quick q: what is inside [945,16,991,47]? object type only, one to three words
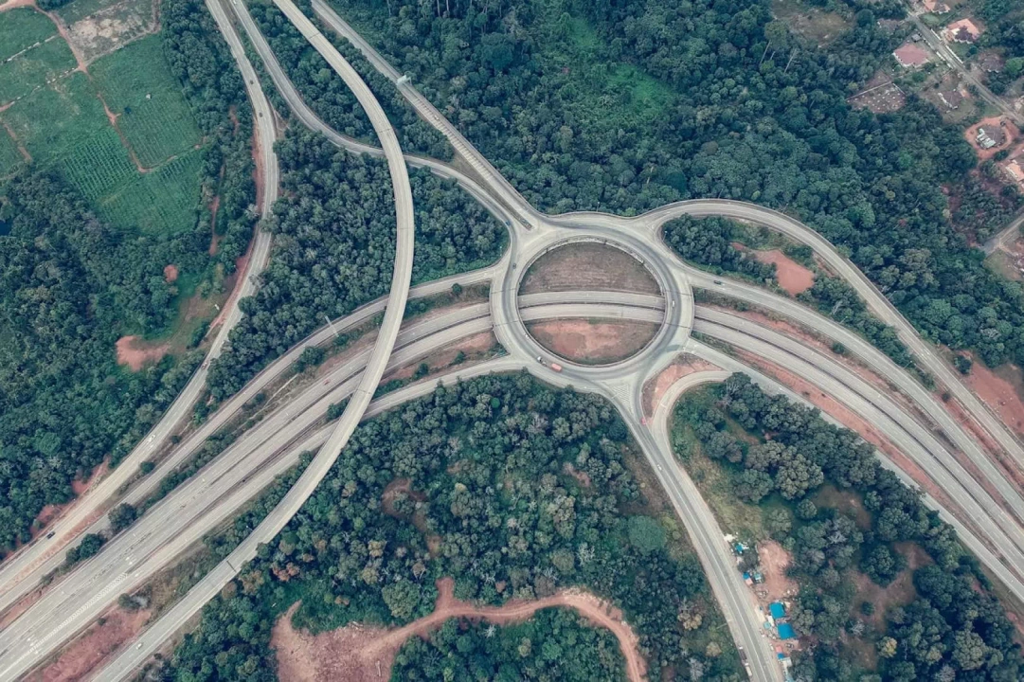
house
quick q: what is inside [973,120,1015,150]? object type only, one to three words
house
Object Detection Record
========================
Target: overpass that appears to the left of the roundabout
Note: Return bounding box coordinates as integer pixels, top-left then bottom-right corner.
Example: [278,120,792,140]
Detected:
[90,0,415,682]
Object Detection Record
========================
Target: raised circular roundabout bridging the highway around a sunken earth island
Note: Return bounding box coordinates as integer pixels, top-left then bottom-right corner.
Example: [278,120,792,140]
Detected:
[478,187,720,446]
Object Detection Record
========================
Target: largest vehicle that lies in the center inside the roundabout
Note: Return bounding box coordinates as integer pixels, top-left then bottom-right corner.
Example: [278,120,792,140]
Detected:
[538,355,564,370]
